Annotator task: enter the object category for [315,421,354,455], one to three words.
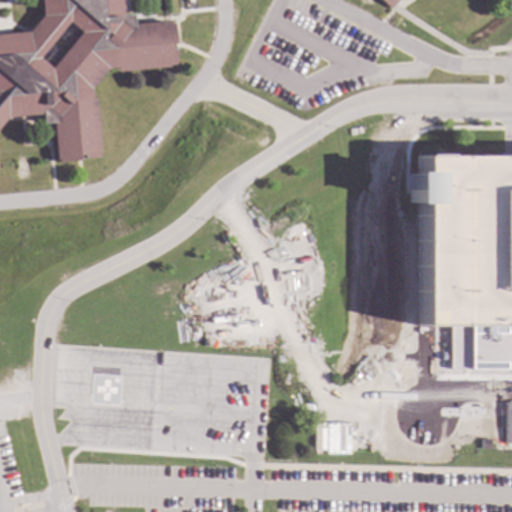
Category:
shed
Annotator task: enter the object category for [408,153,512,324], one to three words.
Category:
building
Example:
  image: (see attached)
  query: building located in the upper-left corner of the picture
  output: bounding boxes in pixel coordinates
[0,0,180,162]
